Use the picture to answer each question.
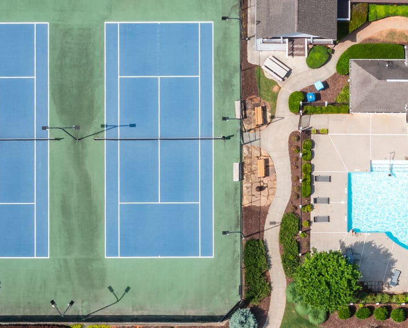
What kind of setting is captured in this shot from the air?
sports ground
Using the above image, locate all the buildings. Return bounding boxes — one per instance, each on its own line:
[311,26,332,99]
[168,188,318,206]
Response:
[349,47,408,130]
[256,0,352,57]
